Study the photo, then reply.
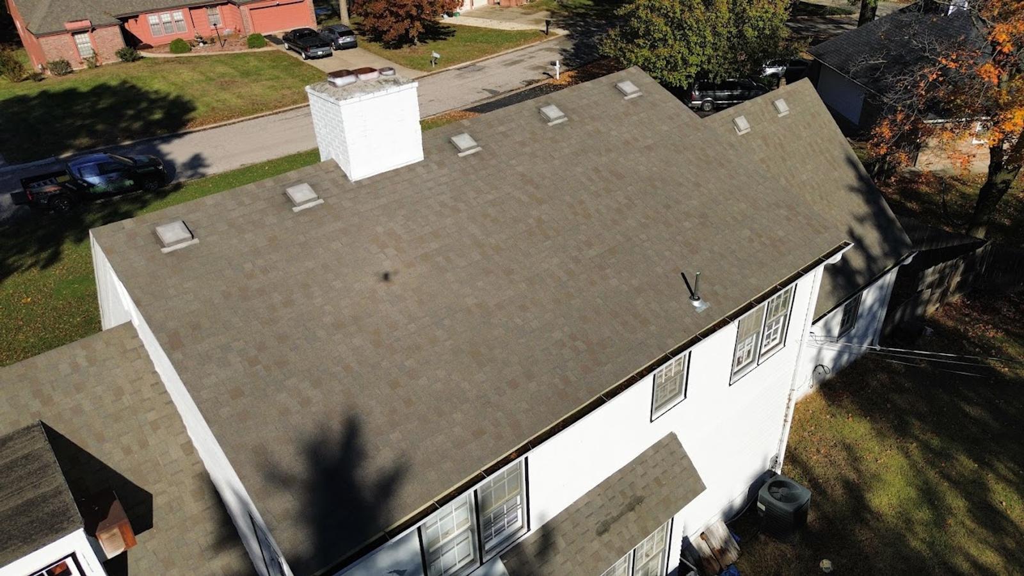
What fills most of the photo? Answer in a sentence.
What you mostly see from above here is buildings.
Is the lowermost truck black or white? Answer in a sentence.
In this view, the lowermost truck is black.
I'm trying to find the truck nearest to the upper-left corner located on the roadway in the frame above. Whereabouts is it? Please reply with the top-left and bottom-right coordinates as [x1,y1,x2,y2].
[1,140,178,212]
